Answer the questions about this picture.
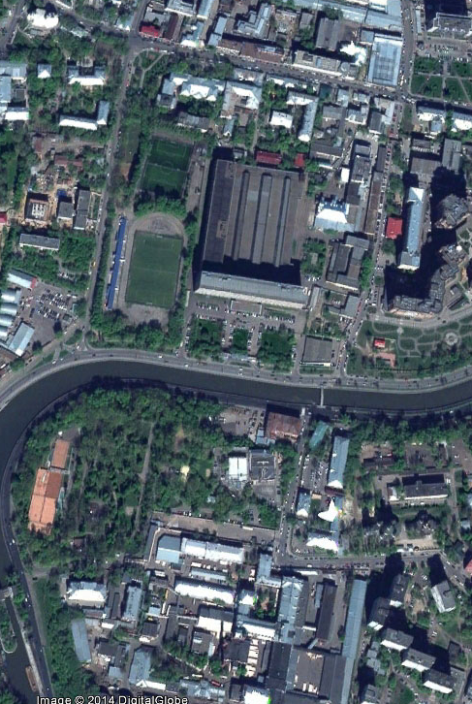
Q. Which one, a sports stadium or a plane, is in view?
sports stadium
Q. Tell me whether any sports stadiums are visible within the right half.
No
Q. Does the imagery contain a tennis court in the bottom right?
No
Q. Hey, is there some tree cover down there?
Yes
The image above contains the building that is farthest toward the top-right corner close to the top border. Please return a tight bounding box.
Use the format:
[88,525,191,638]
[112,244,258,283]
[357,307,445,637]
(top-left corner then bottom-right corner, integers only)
[432,14,472,40]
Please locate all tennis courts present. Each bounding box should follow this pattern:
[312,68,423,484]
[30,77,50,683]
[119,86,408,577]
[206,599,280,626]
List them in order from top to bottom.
[50,439,70,470]
[28,466,61,534]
